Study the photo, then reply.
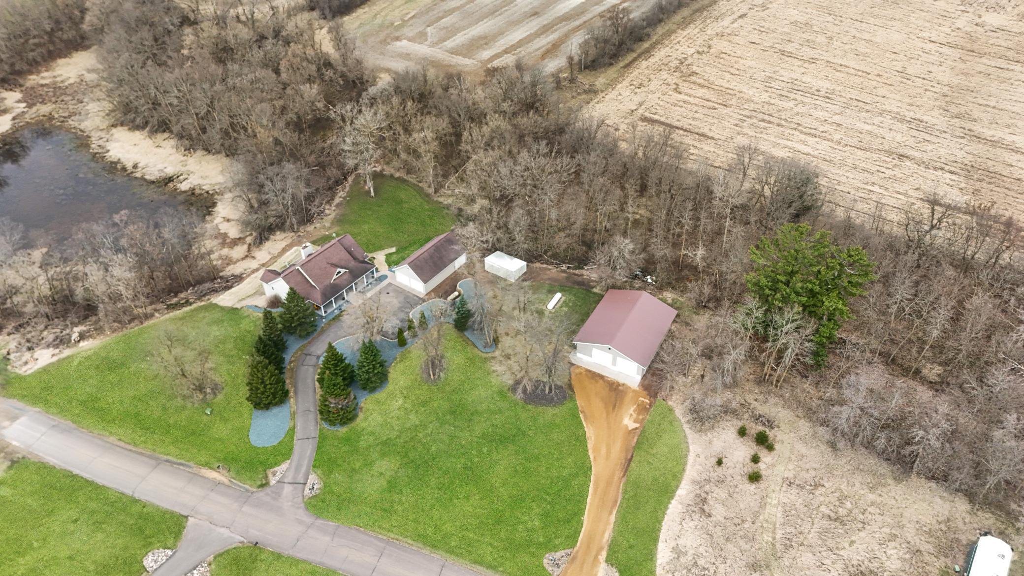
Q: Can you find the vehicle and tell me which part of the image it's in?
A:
bottom right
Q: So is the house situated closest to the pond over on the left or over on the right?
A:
left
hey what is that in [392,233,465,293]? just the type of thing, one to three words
building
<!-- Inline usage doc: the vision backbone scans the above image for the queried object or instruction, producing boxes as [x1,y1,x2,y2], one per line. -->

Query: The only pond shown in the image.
[0,122,223,254]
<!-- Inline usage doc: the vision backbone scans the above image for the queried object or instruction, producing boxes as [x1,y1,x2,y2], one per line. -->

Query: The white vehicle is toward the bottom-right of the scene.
[966,535,1013,576]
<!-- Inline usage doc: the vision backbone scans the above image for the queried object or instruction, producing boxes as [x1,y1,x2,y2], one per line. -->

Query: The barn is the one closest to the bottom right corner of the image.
[569,289,678,387]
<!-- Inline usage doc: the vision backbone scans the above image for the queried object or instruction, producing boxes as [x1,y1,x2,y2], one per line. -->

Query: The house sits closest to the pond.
[258,234,378,317]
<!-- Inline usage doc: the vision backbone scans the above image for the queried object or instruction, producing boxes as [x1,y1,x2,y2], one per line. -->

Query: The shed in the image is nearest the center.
[484,250,526,282]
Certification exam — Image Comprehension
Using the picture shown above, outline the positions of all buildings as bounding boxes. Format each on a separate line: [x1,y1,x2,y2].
[392,233,465,293]
[258,234,378,317]
[569,289,678,387]
[484,250,526,282]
